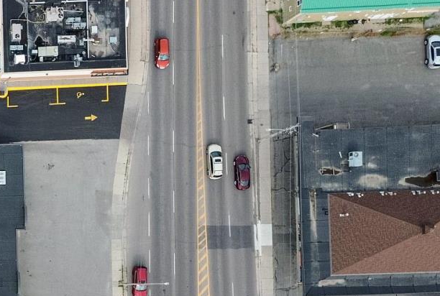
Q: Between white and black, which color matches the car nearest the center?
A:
white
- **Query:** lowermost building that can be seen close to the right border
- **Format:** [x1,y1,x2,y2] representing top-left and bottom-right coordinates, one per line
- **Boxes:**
[288,119,440,296]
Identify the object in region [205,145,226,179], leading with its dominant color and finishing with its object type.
white car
